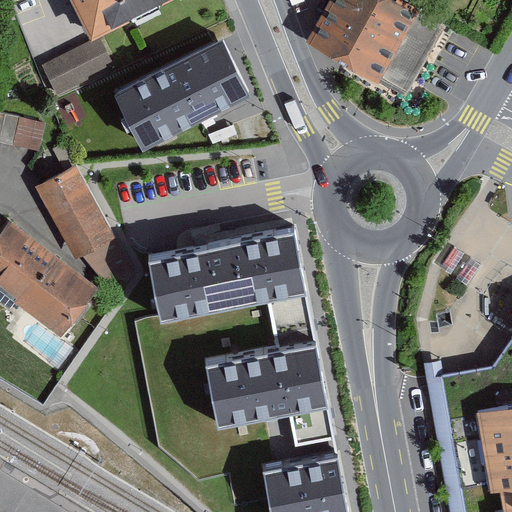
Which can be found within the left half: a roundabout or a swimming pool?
swimming pool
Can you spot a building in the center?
Yes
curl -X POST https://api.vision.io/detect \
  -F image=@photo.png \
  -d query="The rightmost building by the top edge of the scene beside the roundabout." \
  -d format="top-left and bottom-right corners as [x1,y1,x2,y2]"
[306,0,444,92]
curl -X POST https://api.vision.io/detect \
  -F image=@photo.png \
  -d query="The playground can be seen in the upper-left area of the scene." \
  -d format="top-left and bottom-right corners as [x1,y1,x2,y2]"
[62,92,86,126]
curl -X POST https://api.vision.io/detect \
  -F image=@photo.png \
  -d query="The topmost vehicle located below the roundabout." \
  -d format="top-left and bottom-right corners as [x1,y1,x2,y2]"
[411,388,423,412]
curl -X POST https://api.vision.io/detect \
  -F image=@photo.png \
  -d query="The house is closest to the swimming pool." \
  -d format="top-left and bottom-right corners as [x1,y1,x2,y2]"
[0,222,96,336]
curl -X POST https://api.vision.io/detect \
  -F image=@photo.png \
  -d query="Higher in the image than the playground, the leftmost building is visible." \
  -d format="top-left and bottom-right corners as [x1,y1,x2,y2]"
[42,38,112,93]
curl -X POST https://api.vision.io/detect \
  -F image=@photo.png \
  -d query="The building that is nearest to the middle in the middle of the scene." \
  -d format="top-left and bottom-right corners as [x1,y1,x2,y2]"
[149,228,306,324]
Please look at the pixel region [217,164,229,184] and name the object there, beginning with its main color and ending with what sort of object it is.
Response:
gray vehicle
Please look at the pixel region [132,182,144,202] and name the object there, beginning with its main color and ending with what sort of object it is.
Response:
blue vehicle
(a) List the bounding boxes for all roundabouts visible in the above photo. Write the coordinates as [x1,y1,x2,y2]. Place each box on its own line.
[312,136,441,264]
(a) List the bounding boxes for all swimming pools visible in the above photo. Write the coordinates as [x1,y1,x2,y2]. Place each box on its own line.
[7,306,76,370]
